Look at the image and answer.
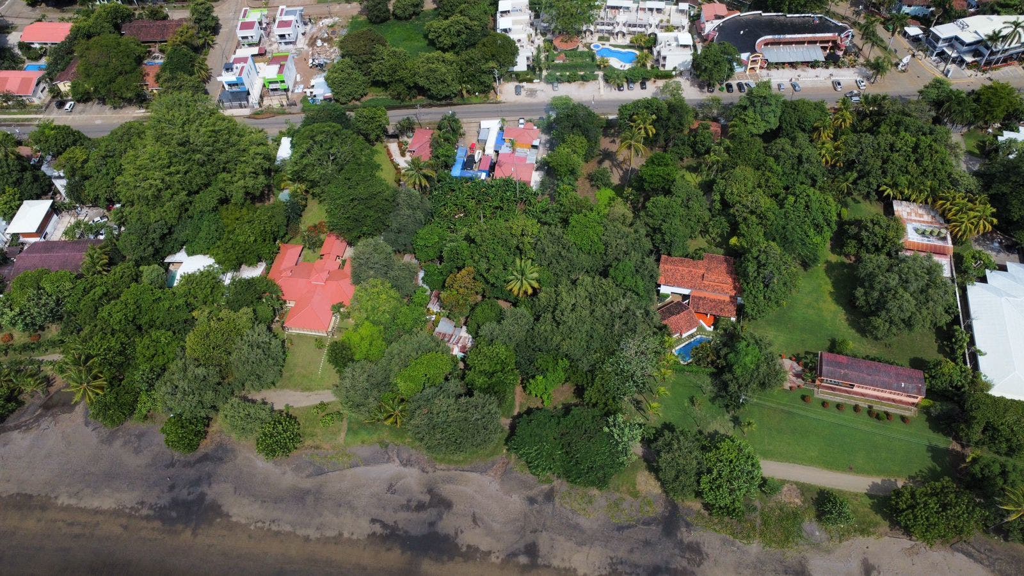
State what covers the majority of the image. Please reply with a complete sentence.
For the most part, this view shows trees.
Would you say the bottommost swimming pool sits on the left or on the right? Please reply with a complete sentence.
The bottommost swimming pool sits on the right side.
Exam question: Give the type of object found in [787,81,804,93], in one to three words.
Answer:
vehicle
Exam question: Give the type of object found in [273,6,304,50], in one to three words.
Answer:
house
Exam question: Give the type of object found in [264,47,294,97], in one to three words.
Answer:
house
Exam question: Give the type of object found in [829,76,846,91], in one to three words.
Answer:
car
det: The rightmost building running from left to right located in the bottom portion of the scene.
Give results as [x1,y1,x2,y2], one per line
[812,350,925,407]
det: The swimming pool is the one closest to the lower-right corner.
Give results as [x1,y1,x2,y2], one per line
[673,335,714,359]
